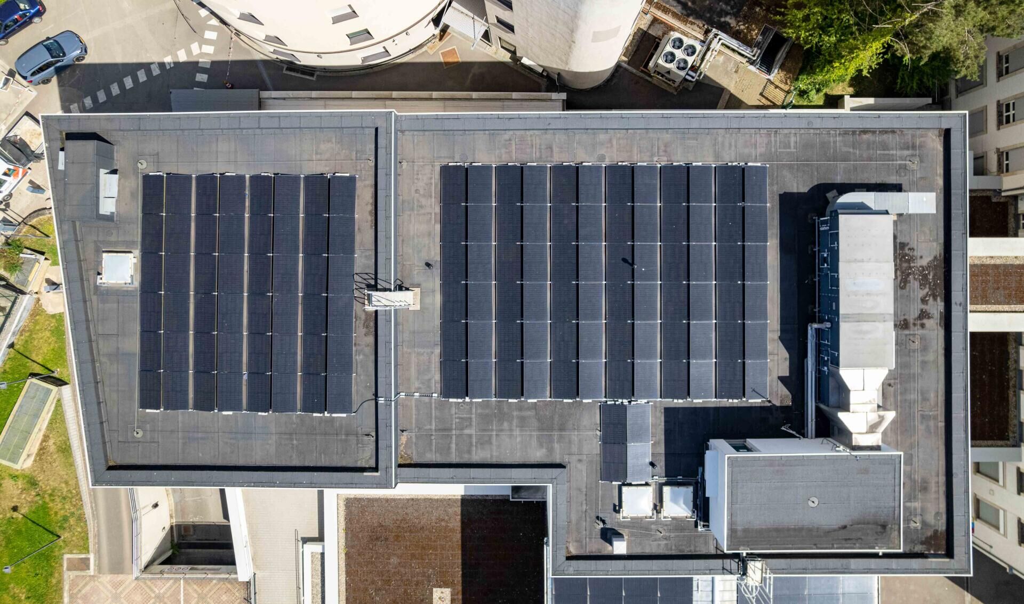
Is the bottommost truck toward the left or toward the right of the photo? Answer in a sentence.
The bottommost truck is on the left side of the image.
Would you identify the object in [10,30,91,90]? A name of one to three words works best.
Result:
car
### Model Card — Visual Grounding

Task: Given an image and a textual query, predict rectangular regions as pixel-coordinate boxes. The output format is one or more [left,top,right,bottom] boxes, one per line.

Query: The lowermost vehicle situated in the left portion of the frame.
[0,108,43,195]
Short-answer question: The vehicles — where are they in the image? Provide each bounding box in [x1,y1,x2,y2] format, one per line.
[10,30,91,90]
[0,0,48,50]
[0,108,43,195]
